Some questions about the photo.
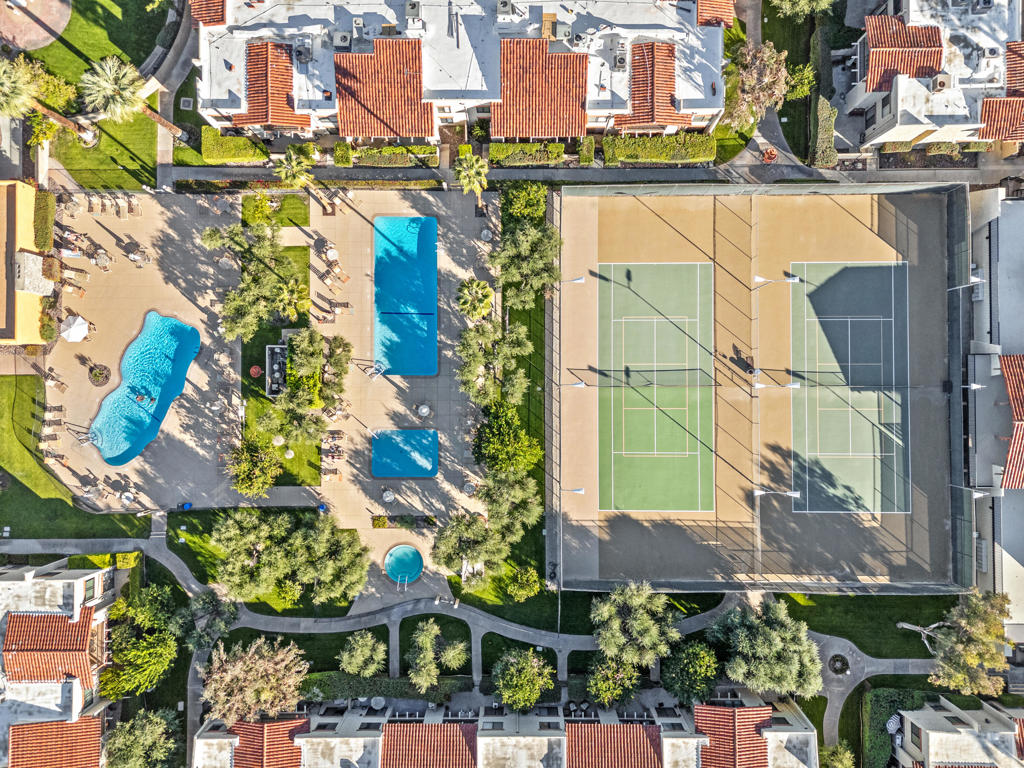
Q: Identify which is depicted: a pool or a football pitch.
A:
pool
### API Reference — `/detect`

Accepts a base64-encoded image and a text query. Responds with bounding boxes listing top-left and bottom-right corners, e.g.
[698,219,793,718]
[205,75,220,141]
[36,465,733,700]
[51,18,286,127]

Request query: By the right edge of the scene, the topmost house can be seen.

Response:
[835,0,1024,156]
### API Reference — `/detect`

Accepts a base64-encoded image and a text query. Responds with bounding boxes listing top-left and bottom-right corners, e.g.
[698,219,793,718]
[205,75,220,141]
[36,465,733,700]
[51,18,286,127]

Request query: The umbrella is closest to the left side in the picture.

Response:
[61,314,92,343]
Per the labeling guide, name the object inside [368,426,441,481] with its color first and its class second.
blue swimming pool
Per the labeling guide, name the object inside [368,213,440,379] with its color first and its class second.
blue swimming pool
